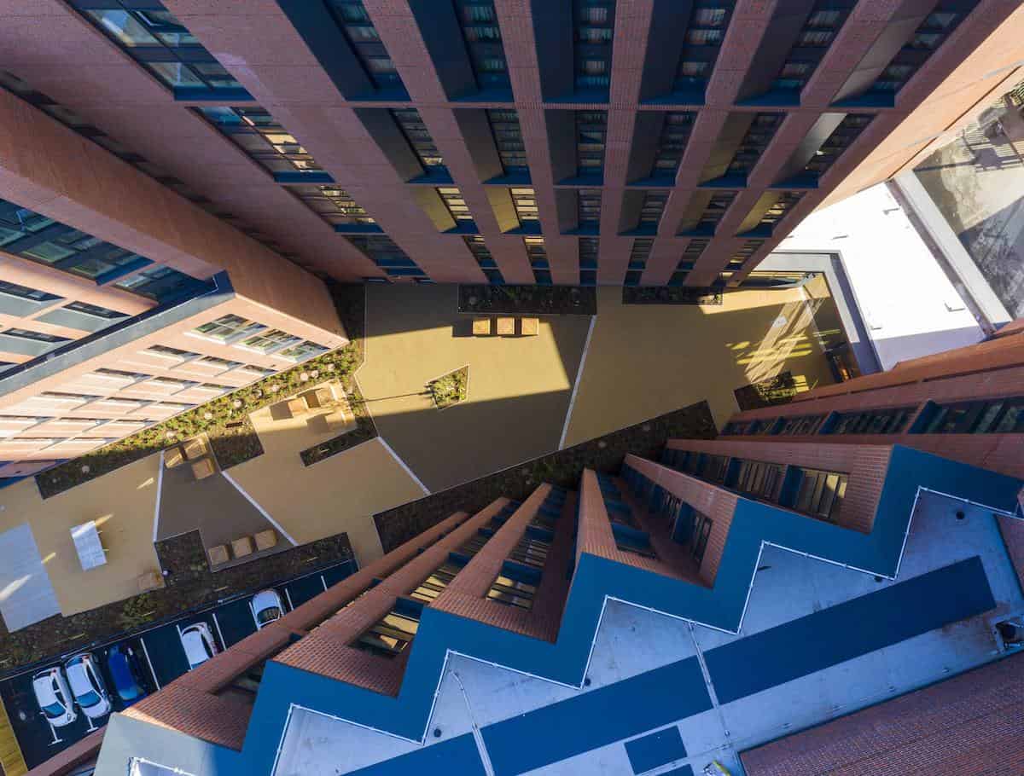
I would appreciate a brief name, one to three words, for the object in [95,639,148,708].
car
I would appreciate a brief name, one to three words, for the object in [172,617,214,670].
car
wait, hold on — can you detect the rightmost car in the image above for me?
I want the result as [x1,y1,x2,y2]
[250,588,284,628]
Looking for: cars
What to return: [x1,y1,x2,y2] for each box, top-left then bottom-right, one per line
[24,667,75,730]
[58,652,111,722]
[250,588,284,628]
[95,639,148,708]
[172,617,214,670]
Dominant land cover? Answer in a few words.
buildings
